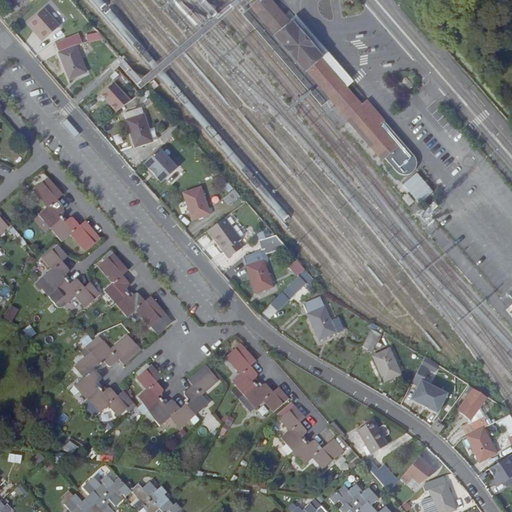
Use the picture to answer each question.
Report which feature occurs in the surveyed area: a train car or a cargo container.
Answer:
train car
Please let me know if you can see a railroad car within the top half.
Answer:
Yes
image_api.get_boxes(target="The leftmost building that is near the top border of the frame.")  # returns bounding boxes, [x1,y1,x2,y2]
[26,4,62,41]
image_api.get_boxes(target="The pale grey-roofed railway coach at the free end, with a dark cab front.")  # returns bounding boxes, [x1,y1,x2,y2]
[248,176,288,220]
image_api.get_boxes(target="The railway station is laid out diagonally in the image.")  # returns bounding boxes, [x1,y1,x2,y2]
[246,0,400,156]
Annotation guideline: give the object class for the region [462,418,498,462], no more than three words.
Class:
house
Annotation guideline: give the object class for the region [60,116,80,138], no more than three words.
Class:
bus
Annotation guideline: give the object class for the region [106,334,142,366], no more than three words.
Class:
house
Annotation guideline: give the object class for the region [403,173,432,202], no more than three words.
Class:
shed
